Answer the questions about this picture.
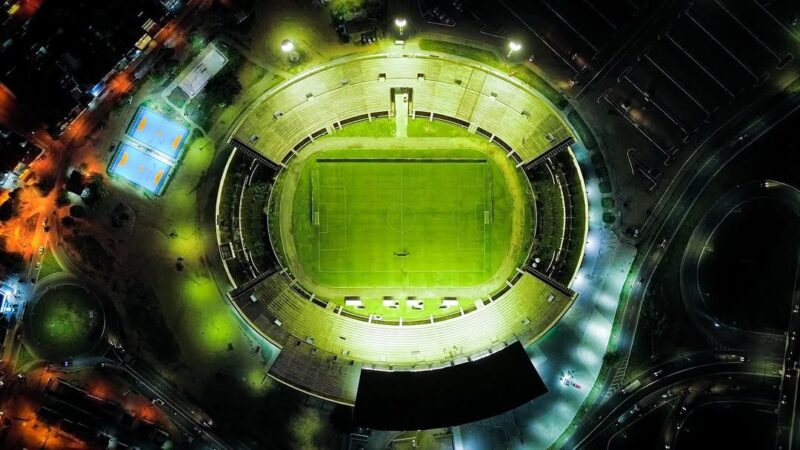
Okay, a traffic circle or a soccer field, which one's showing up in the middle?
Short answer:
soccer field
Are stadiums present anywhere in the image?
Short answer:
Yes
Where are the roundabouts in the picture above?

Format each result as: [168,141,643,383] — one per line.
[19,270,116,367]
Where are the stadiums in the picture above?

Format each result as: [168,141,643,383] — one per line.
[216,52,588,430]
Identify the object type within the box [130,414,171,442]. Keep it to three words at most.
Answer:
shed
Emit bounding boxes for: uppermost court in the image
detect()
[122,105,192,161]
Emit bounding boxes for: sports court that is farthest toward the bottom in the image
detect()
[103,139,173,197]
